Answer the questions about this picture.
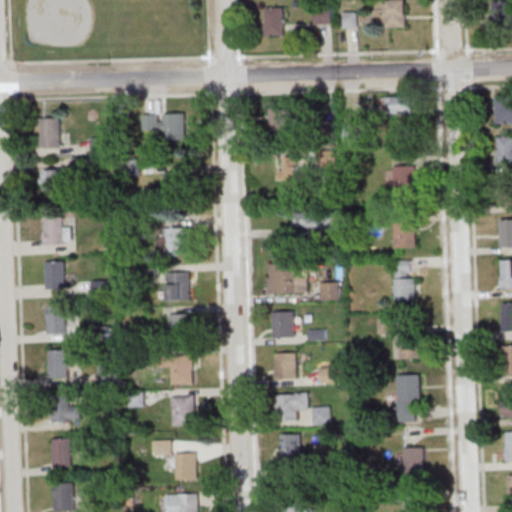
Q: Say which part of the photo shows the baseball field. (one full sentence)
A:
You can find the baseball field in the top left area of the picture.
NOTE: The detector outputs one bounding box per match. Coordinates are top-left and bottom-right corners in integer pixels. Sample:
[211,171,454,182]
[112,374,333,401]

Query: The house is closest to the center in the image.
[266,264,308,295]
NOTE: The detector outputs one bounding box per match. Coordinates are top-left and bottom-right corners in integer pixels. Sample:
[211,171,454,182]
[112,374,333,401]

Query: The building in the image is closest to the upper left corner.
[38,118,60,148]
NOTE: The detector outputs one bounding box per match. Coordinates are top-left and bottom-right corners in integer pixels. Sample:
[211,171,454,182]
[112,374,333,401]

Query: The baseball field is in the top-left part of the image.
[14,0,206,60]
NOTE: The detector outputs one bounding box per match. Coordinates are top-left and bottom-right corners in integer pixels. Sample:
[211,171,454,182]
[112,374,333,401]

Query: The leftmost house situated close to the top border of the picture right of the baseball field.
[263,8,284,36]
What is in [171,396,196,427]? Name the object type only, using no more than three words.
house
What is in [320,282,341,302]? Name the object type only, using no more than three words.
building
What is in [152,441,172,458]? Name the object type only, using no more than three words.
building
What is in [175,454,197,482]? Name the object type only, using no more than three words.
house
